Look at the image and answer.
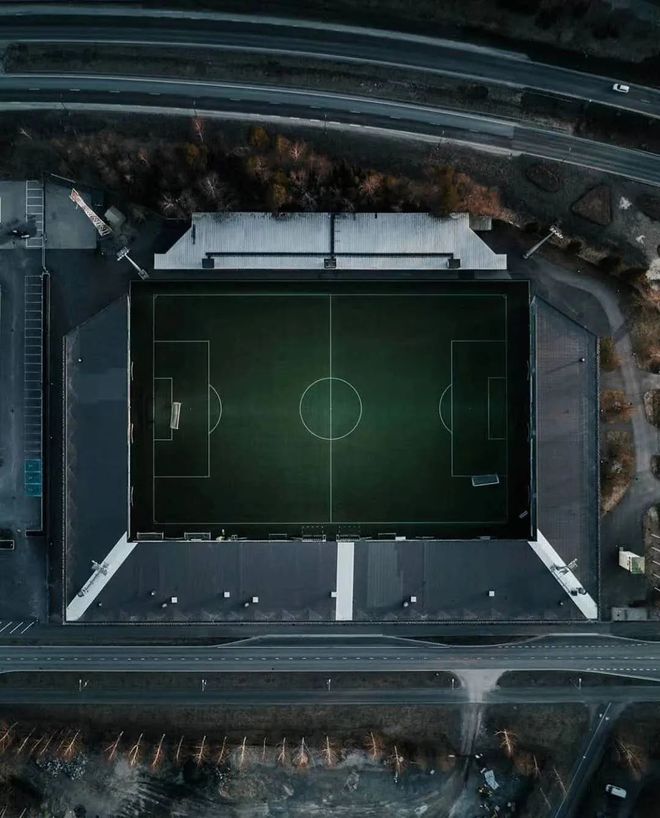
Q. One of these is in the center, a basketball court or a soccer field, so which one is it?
soccer field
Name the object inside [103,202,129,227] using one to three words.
shed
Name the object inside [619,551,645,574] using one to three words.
building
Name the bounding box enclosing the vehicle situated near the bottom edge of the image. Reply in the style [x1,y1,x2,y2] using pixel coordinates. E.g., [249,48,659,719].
[606,784,626,798]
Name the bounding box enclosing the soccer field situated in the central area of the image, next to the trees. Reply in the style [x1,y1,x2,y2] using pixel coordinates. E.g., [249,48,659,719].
[129,280,531,541]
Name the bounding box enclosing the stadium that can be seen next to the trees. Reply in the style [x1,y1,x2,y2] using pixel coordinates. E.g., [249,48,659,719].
[61,211,602,625]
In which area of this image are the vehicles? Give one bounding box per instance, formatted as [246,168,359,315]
[613,84,629,93]
[606,784,626,798]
